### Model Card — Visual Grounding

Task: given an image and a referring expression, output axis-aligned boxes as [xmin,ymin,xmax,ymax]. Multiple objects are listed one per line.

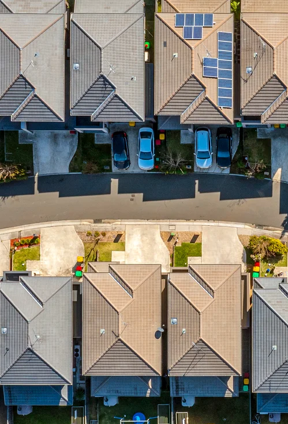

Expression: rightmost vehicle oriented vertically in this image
[215,127,233,168]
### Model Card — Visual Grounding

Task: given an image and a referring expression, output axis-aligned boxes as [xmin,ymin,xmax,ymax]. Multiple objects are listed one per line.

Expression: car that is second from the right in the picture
[194,127,213,168]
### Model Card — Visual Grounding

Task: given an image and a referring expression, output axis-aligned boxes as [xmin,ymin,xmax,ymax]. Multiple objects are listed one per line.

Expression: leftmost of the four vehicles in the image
[112,133,130,170]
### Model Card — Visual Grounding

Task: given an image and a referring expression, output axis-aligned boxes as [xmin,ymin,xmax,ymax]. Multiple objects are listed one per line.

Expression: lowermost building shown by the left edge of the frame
[0,268,81,406]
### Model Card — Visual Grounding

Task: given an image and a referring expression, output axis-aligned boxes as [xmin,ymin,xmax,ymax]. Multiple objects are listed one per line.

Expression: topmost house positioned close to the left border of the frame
[0,0,69,136]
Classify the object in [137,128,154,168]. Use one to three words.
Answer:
car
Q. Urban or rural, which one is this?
urban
